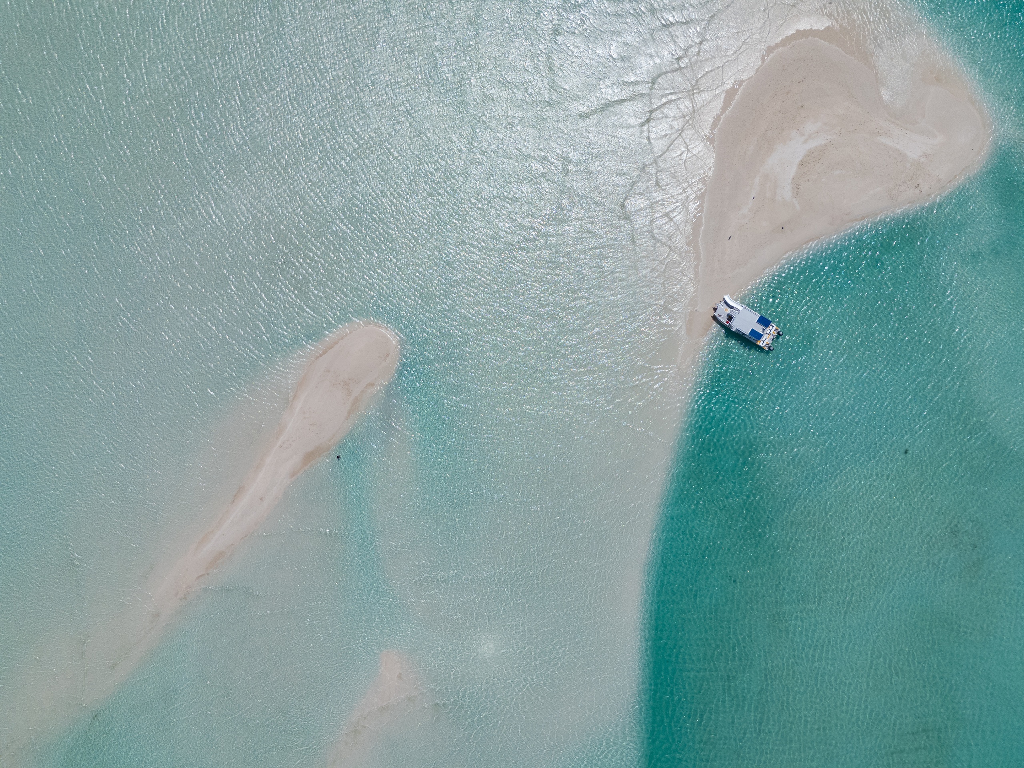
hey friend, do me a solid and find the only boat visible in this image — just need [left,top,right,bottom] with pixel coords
[713,293,784,351]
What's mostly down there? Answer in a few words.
water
